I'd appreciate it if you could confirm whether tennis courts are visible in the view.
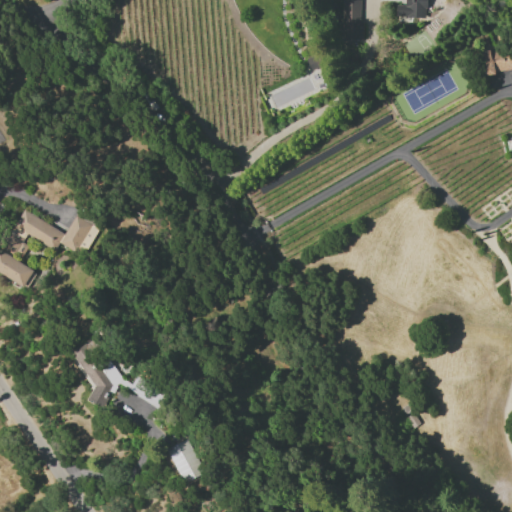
Yes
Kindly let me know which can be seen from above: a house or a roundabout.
house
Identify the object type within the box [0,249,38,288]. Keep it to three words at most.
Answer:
house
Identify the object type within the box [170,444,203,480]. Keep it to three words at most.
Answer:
house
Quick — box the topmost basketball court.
[406,30,438,53]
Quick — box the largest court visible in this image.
[396,62,468,122]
